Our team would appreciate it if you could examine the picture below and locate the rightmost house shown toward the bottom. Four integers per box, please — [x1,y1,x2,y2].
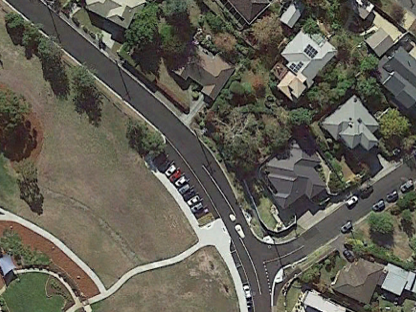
[381,265,416,295]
